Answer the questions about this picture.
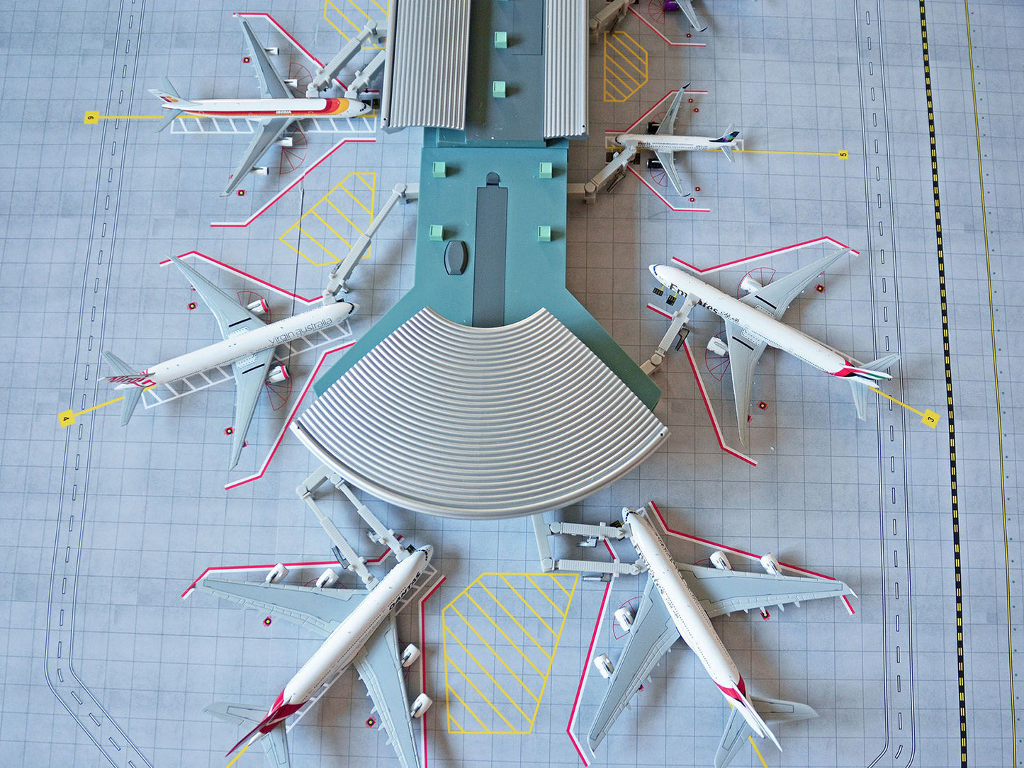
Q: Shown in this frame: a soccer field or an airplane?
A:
airplane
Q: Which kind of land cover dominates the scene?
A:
paved ground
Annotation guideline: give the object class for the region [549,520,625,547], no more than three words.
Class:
jet bridge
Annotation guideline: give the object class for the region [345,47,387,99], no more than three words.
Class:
jet bridge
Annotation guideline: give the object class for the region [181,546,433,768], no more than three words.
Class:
airplane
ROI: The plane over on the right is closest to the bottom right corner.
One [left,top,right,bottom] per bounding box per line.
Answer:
[588,510,860,768]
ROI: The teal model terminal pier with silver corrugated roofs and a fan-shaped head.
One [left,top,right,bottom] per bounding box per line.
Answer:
[290,0,672,522]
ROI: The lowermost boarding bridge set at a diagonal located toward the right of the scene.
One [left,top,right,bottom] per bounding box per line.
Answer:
[639,295,698,376]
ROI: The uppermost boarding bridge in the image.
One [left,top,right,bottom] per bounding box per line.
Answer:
[589,0,634,48]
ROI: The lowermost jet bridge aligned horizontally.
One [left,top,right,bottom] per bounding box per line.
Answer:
[541,556,645,582]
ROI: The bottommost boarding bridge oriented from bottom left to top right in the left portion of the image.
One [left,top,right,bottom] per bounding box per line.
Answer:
[323,183,420,306]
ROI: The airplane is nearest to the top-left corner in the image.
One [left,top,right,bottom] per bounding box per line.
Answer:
[149,10,372,197]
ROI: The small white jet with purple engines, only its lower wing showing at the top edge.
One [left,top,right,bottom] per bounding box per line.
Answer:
[659,0,703,34]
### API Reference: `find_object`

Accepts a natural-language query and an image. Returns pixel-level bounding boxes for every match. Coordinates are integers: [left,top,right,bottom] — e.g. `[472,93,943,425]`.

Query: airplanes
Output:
[615,84,739,197]
[149,10,372,197]
[648,247,900,446]
[100,256,359,468]
[659,0,703,34]
[181,546,433,768]
[588,510,860,768]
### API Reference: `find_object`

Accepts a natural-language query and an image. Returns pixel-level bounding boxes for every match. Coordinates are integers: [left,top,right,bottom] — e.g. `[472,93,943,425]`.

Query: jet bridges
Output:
[568,136,638,209]
[307,20,389,98]
[323,183,420,306]
[295,485,380,591]
[541,556,645,582]
[345,47,387,99]
[589,0,634,48]
[639,295,698,376]
[549,520,625,547]
[329,473,409,561]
